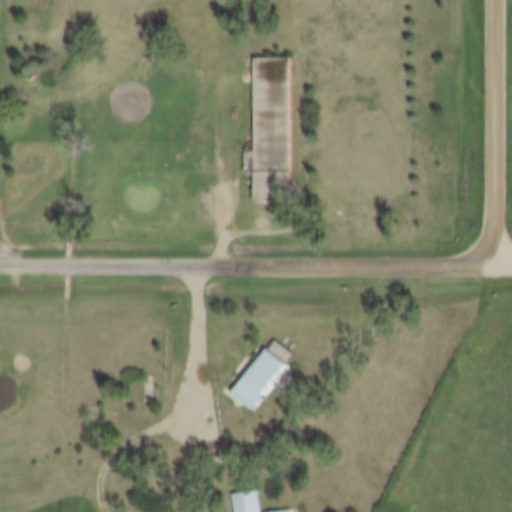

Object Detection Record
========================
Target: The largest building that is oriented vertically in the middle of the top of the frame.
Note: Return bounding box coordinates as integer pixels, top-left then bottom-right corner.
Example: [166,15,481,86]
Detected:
[252,57,292,172]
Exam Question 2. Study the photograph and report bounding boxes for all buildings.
[252,57,292,172]
[231,340,293,408]
[234,490,262,512]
